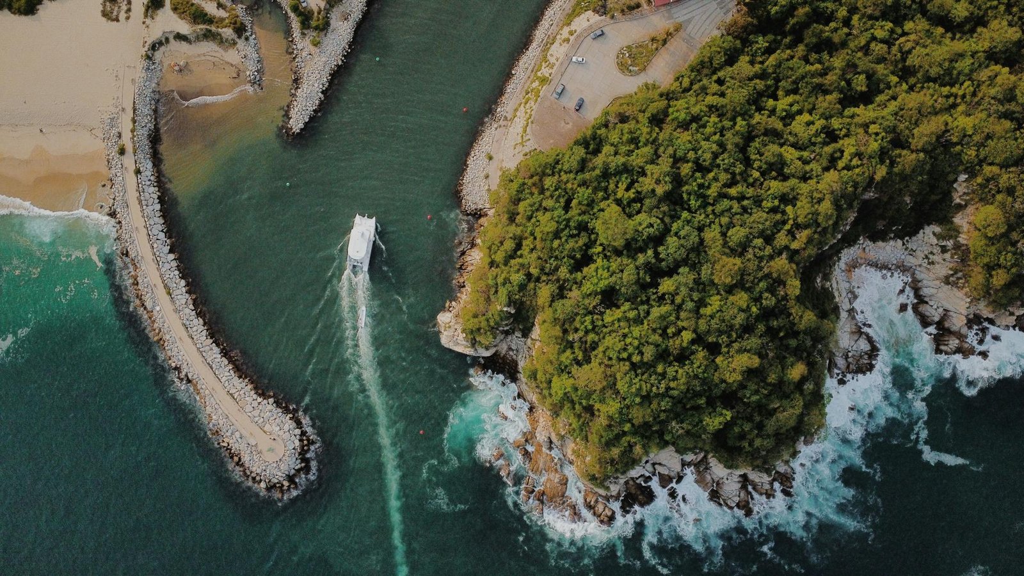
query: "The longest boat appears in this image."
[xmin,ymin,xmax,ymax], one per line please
[348,214,373,272]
